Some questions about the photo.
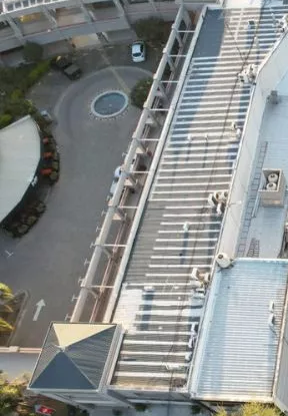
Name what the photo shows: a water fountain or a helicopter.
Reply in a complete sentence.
There is a water fountain in the scene.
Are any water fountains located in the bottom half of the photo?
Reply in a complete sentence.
No, there is no water fountain in the bottom half of the photo.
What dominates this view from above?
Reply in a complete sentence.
Most of the picture is covered by buildings.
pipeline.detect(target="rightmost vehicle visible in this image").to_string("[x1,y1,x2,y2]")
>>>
[130,39,147,63]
